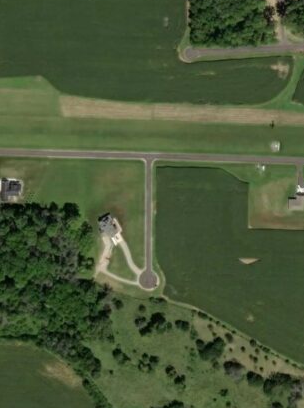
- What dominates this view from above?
farmland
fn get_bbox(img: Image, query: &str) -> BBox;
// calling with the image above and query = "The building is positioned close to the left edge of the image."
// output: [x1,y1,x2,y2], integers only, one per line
[0,181,22,203]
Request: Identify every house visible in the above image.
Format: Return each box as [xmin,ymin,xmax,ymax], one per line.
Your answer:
[0,181,22,203]
[288,195,304,211]
[98,215,121,240]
